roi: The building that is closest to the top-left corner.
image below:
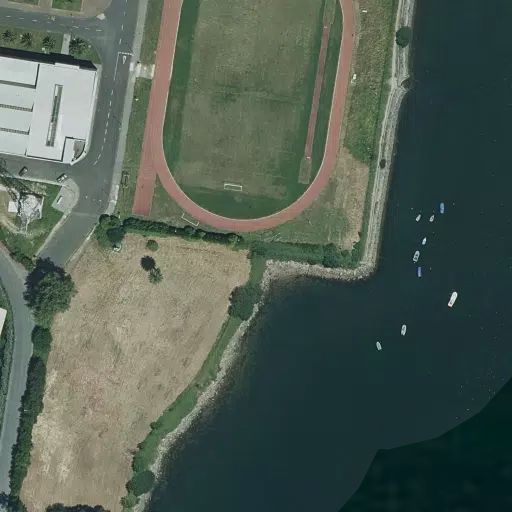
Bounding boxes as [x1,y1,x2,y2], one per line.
[0,56,98,165]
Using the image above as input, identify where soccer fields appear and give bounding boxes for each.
[162,0,342,219]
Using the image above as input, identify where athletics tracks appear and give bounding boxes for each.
[132,0,353,232]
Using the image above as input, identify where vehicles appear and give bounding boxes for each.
[57,174,67,182]
[20,166,28,176]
